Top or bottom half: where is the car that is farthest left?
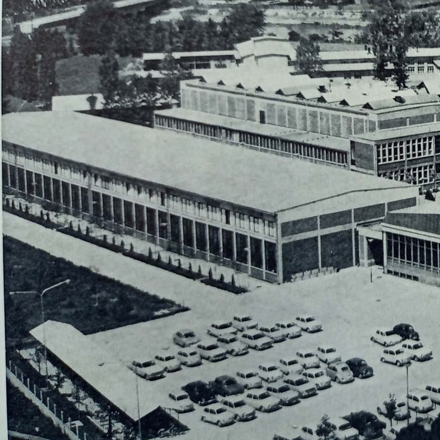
bottom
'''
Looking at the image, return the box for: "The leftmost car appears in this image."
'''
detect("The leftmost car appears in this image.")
[129,358,164,381]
